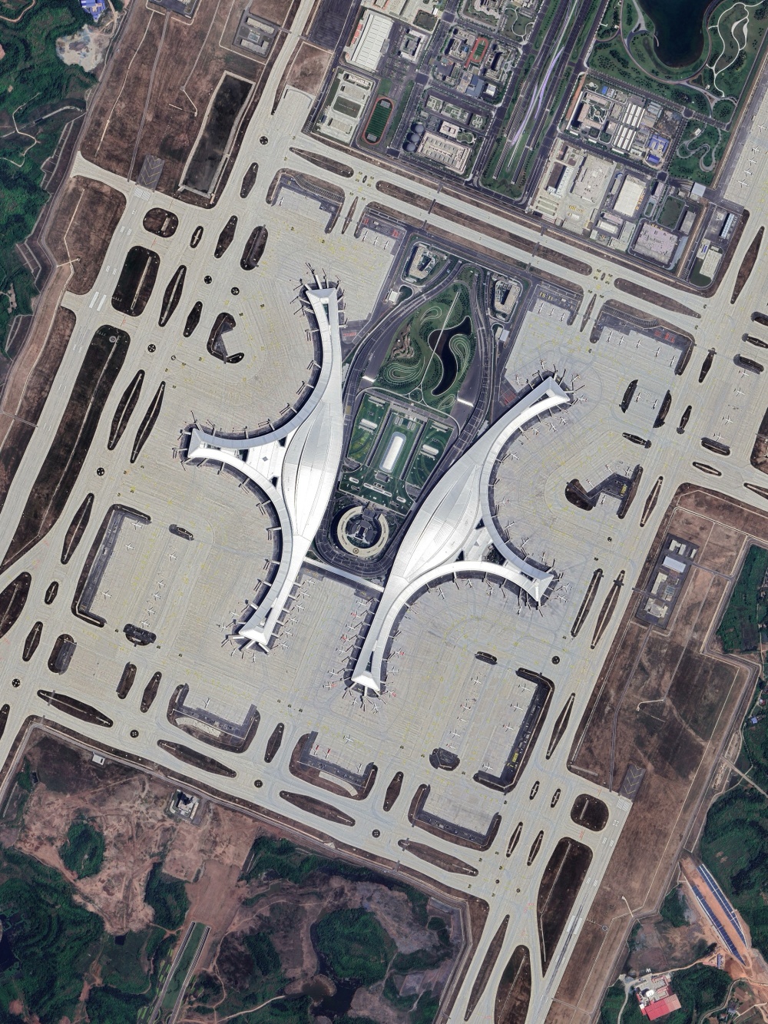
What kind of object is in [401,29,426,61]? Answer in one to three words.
building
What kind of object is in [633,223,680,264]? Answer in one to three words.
building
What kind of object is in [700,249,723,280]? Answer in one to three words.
hangar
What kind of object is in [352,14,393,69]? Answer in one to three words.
hangar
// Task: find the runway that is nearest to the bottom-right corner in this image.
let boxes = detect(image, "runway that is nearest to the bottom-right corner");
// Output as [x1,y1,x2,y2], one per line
[527,795,631,1024]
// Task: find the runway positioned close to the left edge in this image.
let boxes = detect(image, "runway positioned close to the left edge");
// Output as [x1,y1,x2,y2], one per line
[0,184,154,566]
